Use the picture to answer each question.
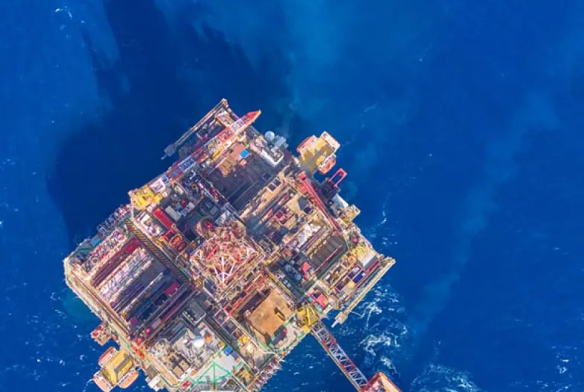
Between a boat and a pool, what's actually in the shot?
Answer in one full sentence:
The image shows a boat.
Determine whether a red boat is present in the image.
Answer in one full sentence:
Yes, you can see a red boat in this photo.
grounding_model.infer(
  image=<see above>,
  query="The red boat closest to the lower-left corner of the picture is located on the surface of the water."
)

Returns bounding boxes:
[97,346,114,362]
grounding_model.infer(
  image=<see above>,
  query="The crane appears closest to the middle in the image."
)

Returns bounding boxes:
[294,170,343,236]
